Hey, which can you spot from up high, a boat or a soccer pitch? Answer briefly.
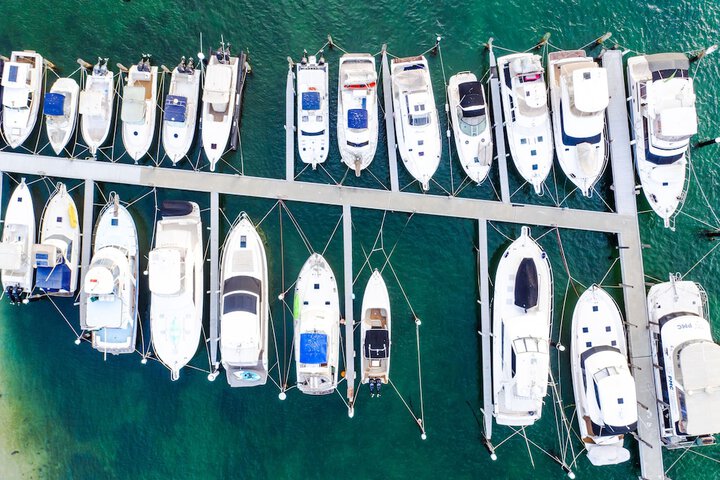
boat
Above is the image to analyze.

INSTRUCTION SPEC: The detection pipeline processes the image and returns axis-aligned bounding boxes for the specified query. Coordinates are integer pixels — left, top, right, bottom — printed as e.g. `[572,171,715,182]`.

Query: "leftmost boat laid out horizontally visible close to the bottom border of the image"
[584,444,627,464]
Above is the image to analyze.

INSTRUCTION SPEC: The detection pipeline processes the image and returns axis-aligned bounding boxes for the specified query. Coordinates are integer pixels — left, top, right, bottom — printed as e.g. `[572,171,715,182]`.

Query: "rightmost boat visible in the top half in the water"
[625,55,701,229]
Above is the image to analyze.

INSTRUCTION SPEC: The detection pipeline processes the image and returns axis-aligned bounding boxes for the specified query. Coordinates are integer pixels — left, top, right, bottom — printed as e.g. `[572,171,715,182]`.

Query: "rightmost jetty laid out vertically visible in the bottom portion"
[615,210,664,480]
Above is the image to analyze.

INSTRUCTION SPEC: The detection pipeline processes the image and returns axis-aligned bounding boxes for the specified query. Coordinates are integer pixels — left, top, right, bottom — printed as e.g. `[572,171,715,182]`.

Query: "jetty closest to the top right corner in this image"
[603,50,638,212]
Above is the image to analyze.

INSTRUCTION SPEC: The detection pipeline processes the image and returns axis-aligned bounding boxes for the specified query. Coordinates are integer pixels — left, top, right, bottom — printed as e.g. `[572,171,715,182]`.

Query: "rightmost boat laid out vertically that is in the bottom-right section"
[641,275,720,450]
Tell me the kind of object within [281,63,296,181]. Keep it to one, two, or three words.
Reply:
pier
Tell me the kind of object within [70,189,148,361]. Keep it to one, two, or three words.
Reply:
boat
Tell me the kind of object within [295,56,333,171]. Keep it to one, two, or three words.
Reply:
boat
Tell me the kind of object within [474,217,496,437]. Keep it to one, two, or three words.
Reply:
pier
